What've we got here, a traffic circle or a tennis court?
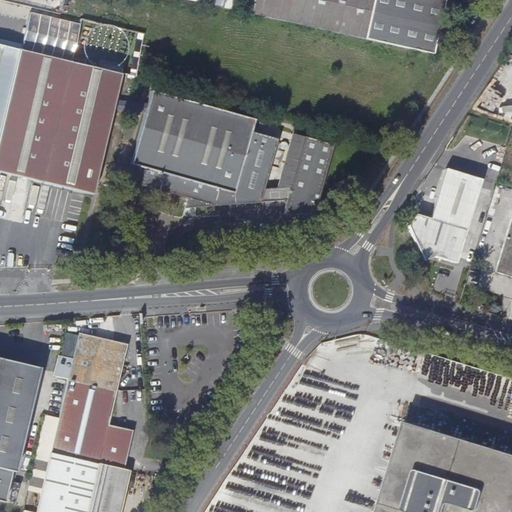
traffic circle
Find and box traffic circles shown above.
[290,249,372,332]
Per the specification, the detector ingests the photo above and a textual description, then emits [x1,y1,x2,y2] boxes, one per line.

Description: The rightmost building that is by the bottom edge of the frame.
[374,422,512,512]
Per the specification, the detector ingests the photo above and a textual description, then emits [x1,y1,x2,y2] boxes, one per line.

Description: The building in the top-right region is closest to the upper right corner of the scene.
[368,0,446,53]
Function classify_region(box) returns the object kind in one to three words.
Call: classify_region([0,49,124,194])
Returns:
warehouse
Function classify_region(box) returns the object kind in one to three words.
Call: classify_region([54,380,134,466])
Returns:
building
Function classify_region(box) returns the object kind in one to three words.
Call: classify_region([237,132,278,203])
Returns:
building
